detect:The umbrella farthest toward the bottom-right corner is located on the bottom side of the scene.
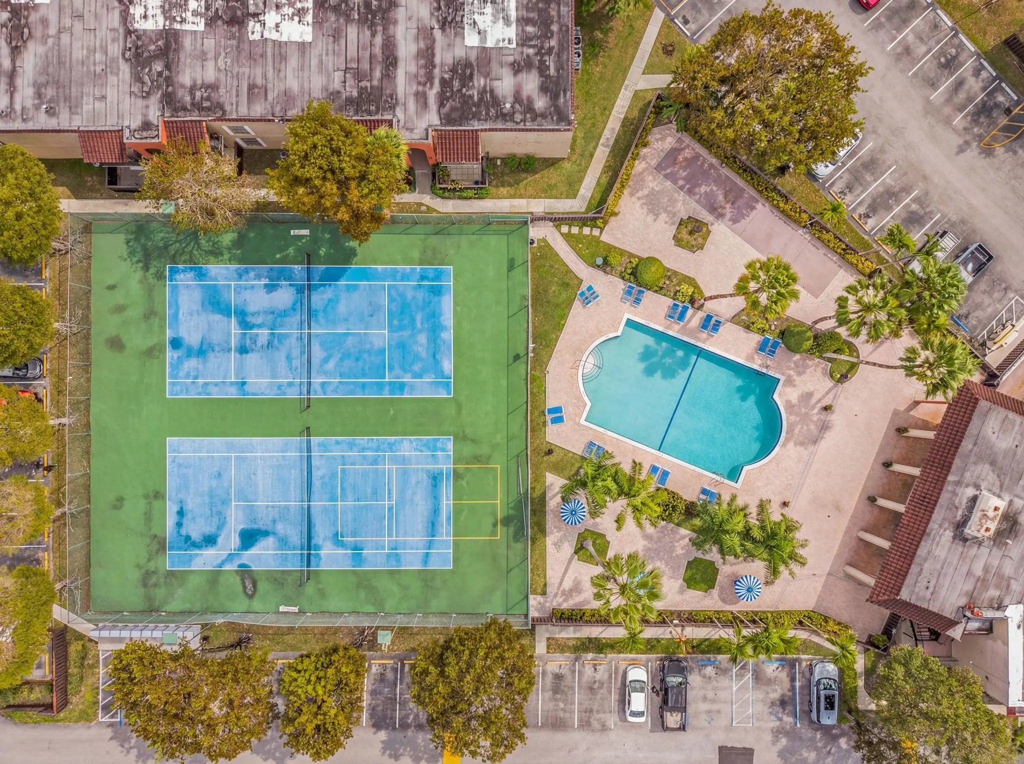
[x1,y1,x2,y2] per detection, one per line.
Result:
[734,575,760,601]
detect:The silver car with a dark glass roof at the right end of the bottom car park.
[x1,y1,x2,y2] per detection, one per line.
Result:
[813,664,845,727]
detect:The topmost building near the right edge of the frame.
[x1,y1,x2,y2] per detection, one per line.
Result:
[842,381,1024,641]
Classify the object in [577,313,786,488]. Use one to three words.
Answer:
swimming pool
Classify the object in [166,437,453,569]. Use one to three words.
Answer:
tennis court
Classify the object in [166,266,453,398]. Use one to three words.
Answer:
tennis court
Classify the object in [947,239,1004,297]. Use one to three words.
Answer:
truck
